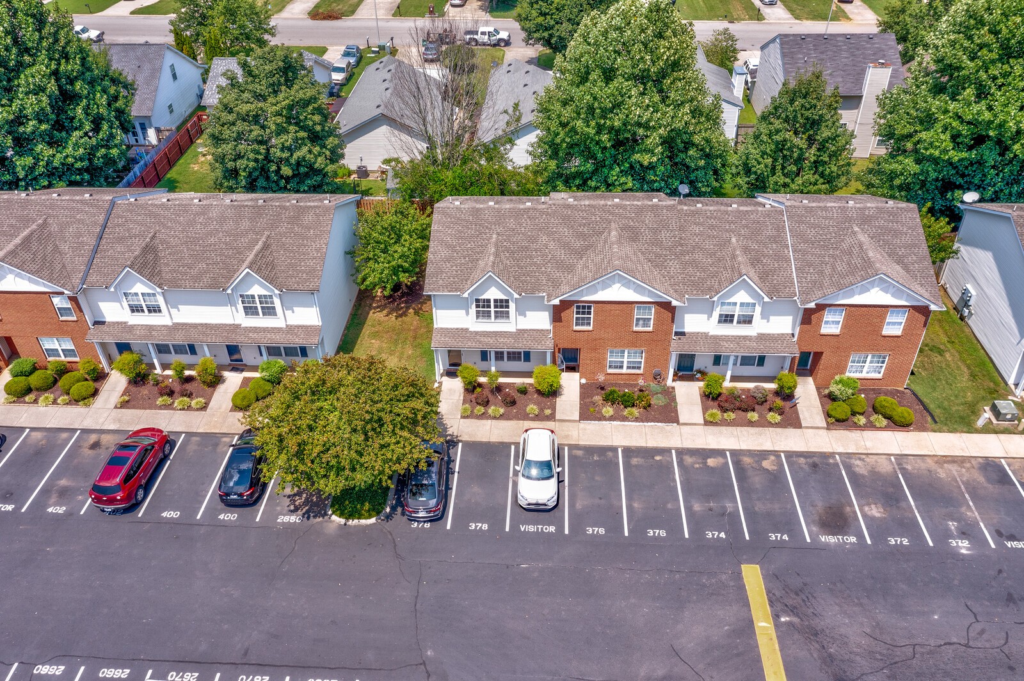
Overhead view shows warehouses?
No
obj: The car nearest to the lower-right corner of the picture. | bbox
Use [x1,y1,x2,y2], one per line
[516,428,562,510]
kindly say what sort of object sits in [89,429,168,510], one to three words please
car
